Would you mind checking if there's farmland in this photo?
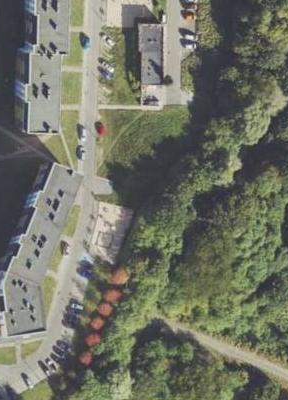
No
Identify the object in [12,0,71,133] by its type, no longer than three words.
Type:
building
